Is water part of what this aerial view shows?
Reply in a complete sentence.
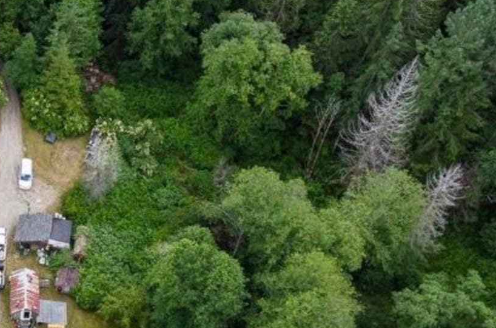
No, the picture contains no water.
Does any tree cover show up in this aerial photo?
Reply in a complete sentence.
Yes, the picture does contain tree cover.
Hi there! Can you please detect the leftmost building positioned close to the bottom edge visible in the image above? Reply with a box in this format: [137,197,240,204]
[10,268,41,328]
